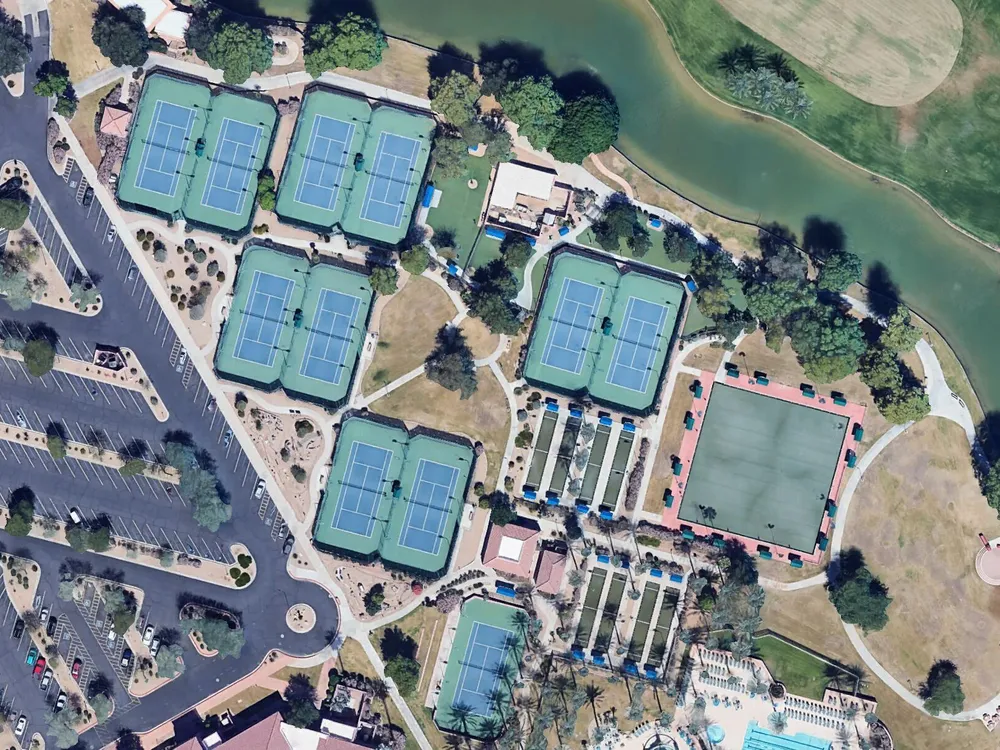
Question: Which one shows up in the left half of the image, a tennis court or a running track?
tennis court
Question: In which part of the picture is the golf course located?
top right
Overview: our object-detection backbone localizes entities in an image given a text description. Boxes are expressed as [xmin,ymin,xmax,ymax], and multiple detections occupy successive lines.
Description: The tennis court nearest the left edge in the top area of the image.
[116,73,215,219]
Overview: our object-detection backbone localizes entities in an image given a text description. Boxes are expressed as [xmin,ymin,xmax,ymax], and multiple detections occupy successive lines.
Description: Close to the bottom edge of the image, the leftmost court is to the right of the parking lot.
[435,595,532,741]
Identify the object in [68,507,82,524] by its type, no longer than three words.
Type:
vehicle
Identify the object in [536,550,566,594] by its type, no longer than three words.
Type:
building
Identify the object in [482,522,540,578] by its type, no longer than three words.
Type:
building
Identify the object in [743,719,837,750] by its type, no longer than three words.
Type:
swimming pool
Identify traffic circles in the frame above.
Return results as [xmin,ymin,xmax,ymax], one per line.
[285,604,316,634]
